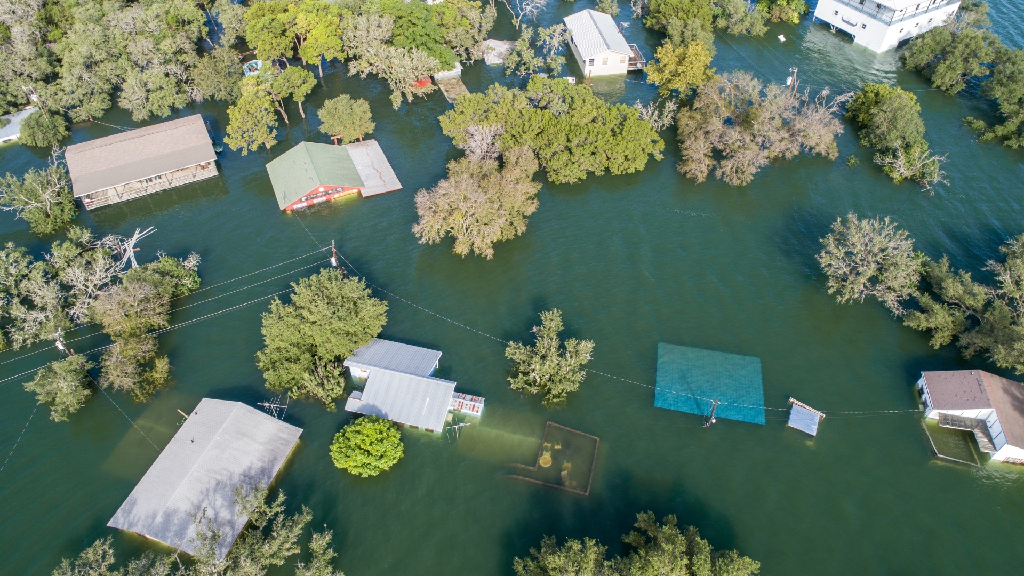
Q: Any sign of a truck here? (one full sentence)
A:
No, I find no truck anywhere in the image.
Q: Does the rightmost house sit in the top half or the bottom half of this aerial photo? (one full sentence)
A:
The bottom half of the photo is where the rightmost house is.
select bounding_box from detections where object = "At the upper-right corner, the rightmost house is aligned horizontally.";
[812,0,963,71]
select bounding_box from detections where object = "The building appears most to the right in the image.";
[905,367,1024,485]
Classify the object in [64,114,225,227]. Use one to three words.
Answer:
house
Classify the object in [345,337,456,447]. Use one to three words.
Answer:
house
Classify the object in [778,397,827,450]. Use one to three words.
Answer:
shed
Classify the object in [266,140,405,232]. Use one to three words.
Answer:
building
